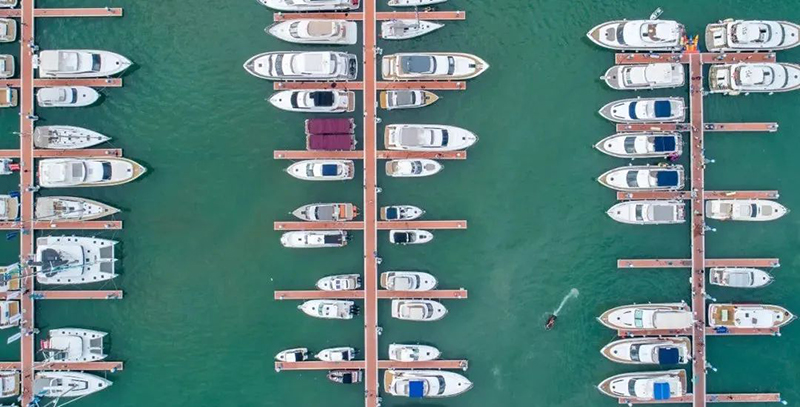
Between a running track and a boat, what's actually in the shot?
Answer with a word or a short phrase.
boat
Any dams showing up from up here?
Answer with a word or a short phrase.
No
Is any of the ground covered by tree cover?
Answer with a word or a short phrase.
No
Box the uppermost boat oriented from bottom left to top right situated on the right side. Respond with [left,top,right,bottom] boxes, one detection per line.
[650,6,665,20]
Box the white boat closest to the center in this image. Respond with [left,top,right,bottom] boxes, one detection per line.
[377,205,423,220]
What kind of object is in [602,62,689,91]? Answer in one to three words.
boat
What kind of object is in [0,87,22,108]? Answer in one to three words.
boat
